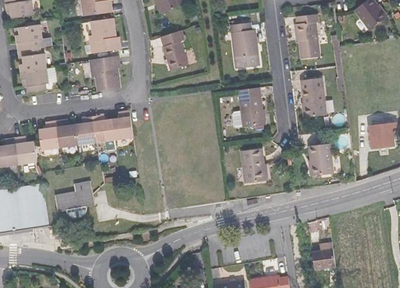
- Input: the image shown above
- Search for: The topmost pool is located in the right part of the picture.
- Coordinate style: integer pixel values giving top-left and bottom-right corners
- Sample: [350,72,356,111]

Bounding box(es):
[332,112,348,128]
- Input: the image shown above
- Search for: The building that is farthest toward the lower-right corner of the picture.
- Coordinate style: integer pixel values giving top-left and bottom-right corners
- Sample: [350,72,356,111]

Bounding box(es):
[312,242,336,271]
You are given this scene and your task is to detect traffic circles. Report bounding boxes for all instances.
[92,246,148,288]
